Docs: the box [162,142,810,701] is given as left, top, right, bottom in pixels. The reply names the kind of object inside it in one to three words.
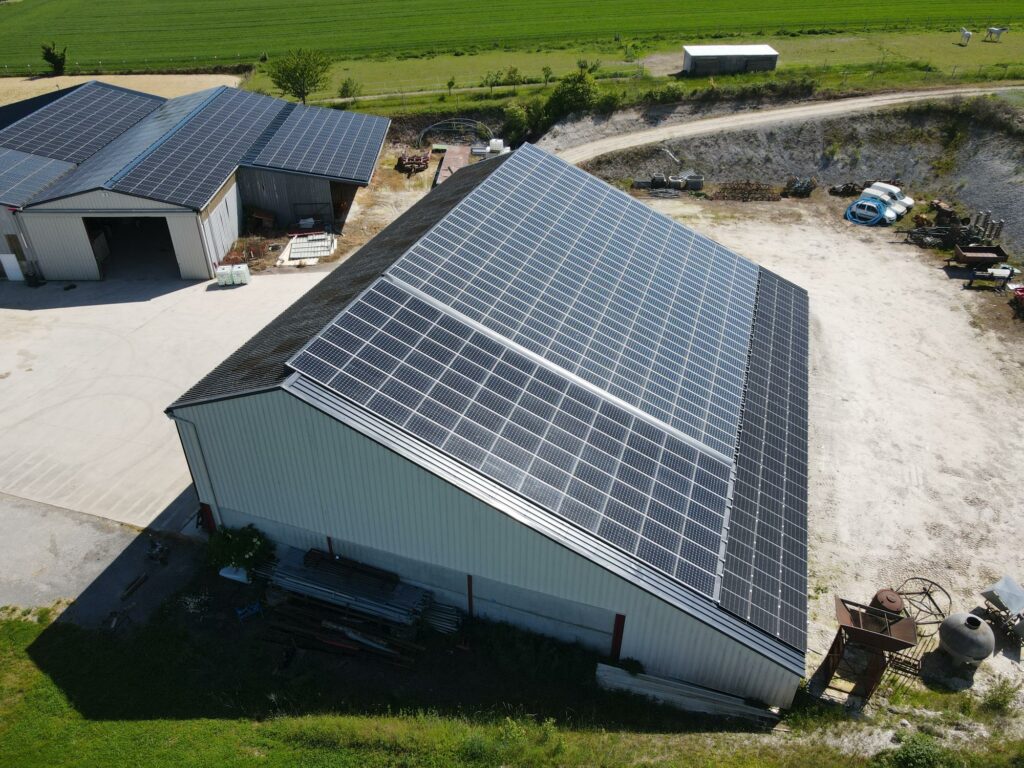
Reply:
barn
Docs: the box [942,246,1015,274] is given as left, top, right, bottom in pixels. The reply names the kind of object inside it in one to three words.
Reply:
trailer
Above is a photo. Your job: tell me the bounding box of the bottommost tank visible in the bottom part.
[936,614,1000,671]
